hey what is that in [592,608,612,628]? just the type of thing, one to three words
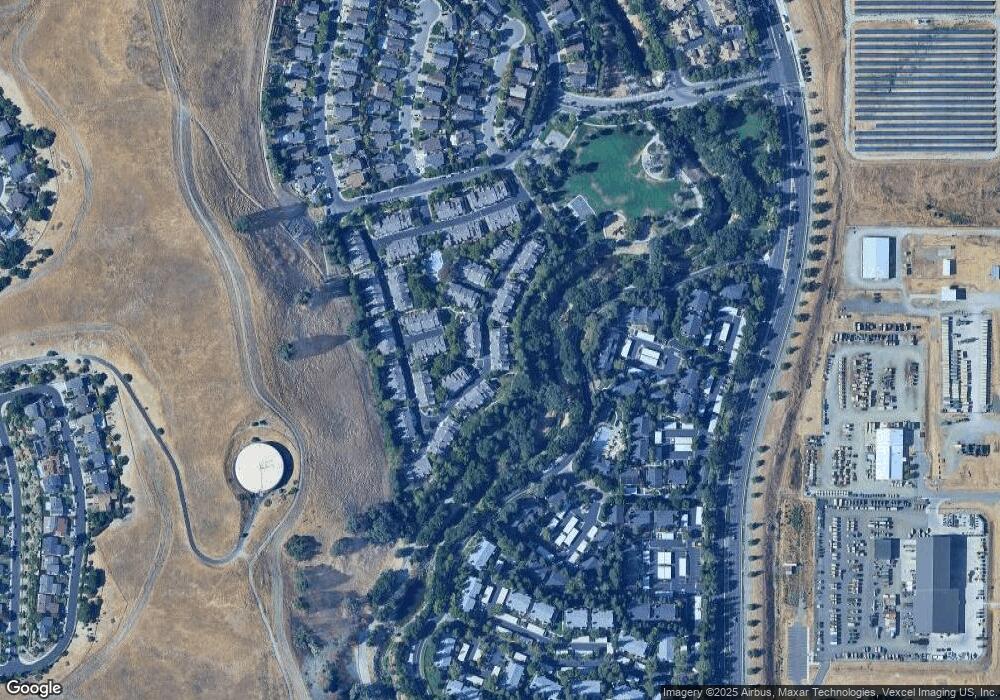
building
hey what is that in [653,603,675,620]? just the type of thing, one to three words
building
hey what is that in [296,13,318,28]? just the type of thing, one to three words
house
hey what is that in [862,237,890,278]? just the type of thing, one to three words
barn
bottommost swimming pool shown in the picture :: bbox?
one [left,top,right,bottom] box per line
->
[593,425,622,460]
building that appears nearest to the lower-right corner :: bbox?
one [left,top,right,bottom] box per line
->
[916,536,958,634]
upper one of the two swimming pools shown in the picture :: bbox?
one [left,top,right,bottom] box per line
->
[430,249,443,277]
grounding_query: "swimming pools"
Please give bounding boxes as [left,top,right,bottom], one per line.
[593,425,622,460]
[430,249,443,277]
